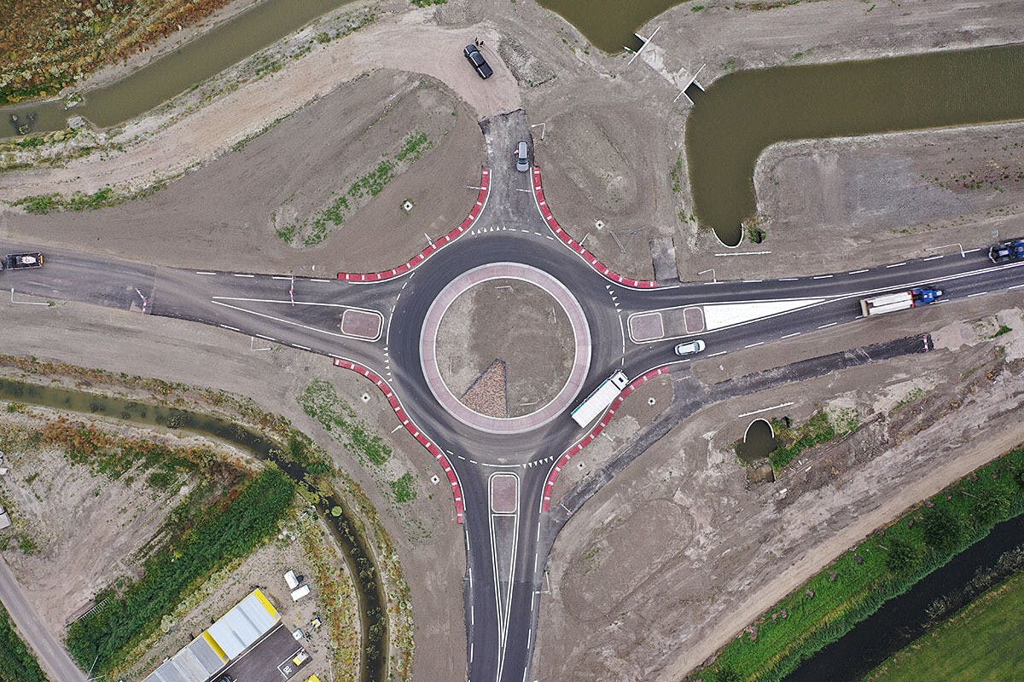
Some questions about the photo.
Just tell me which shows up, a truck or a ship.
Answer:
truck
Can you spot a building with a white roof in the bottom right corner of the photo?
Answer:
No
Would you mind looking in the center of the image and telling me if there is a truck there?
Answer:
Yes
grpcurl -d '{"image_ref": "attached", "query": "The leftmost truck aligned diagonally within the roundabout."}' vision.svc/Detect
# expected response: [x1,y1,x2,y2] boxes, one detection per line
[569,368,630,429]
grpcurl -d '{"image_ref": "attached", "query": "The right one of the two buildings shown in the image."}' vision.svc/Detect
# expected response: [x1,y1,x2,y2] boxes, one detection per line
[207,588,282,660]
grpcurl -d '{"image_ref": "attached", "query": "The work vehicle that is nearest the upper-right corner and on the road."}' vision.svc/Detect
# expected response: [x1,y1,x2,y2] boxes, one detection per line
[988,242,1024,265]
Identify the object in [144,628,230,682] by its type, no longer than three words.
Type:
building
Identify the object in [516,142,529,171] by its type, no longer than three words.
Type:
vehicle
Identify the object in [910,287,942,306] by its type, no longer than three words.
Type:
work vehicle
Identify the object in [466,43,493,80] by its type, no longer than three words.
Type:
truck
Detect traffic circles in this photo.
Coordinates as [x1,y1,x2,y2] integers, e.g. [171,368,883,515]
[328,167,690,523]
